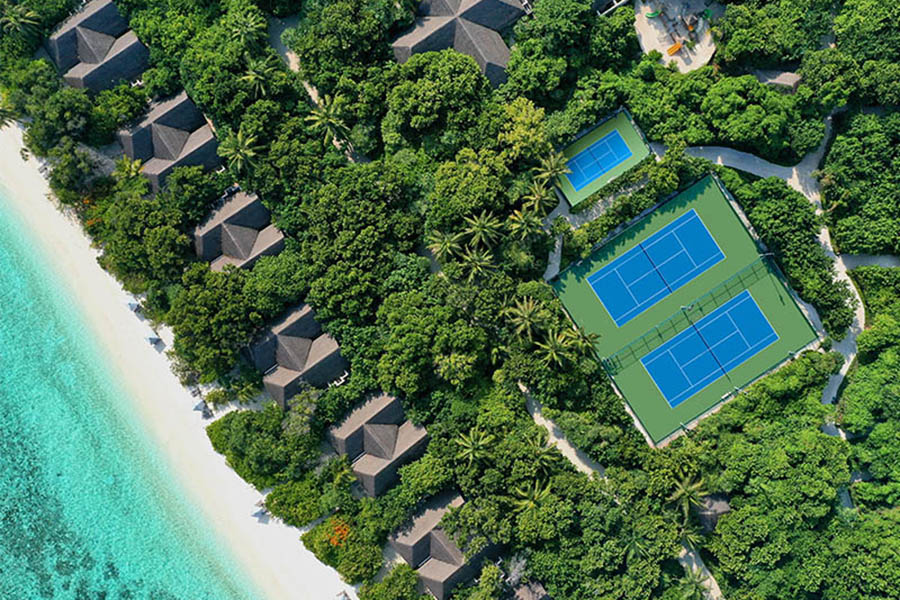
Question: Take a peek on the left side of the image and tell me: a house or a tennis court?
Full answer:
It is a house that can be seen on the left side of the image.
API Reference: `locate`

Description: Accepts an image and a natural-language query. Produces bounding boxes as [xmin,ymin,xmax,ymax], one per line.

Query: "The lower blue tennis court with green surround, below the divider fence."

[603,255,822,445]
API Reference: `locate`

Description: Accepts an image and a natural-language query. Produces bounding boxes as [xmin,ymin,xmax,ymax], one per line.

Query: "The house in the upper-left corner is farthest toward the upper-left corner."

[42,0,159,105]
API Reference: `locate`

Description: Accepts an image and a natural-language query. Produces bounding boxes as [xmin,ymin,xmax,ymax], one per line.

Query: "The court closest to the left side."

[545,109,648,206]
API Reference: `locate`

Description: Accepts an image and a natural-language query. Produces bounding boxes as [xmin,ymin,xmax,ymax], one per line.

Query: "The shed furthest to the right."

[766,71,802,94]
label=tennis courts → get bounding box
[545,109,648,206]
[553,177,762,358]
[603,255,822,445]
